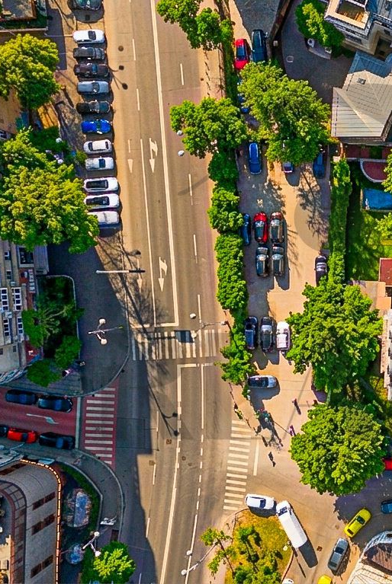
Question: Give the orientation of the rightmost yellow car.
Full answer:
The rightmost yellow car runs diagonally in the image.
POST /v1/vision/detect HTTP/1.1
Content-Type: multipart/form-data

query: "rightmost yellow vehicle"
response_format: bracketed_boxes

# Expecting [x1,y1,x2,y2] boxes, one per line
[345,508,369,537]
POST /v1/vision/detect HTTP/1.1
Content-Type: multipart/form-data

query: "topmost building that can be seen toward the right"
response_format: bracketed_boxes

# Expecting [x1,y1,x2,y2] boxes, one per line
[325,0,392,59]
